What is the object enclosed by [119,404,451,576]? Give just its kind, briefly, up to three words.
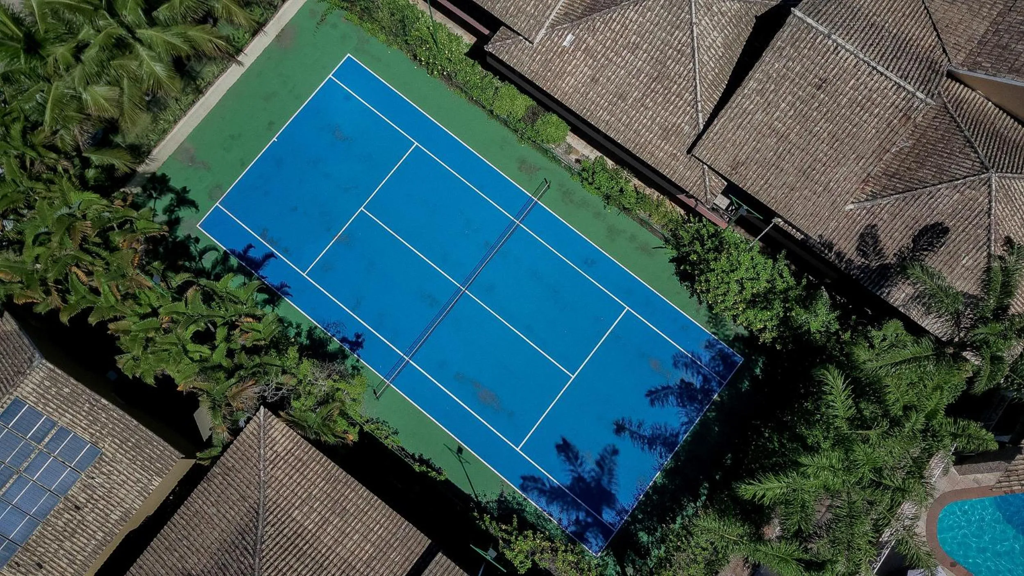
house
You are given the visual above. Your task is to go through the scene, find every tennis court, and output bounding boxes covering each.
[136,0,829,576]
